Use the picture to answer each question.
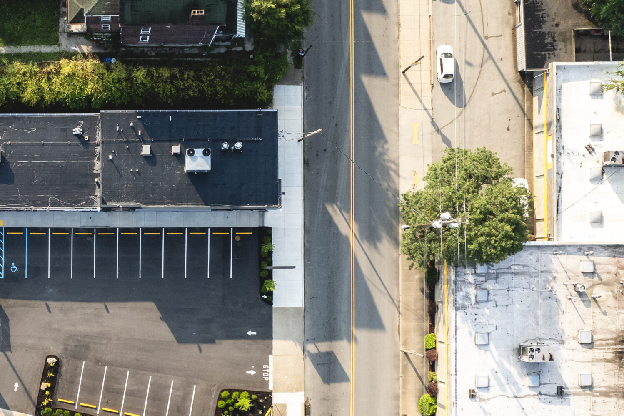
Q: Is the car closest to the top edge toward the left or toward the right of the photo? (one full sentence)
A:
The car closest to the top edge sits on the right side.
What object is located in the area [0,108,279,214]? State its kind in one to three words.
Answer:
building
